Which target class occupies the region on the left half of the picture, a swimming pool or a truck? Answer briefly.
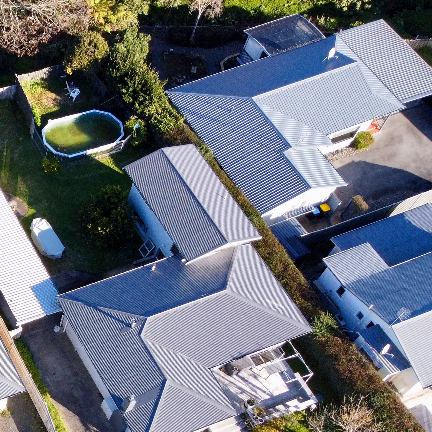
swimming pool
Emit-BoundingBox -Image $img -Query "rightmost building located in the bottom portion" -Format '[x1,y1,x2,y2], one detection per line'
[307,203,432,398]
